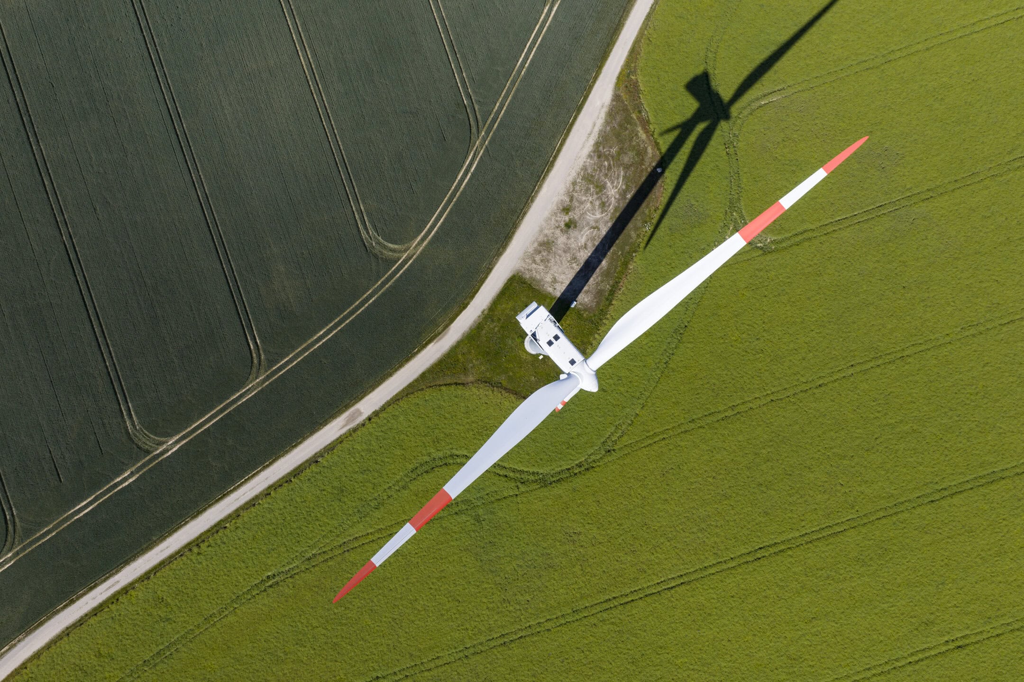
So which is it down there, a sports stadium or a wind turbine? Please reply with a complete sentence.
Looking from above, you can make out a wind turbine.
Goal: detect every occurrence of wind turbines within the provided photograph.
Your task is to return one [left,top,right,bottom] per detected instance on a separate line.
[333,137,868,603]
